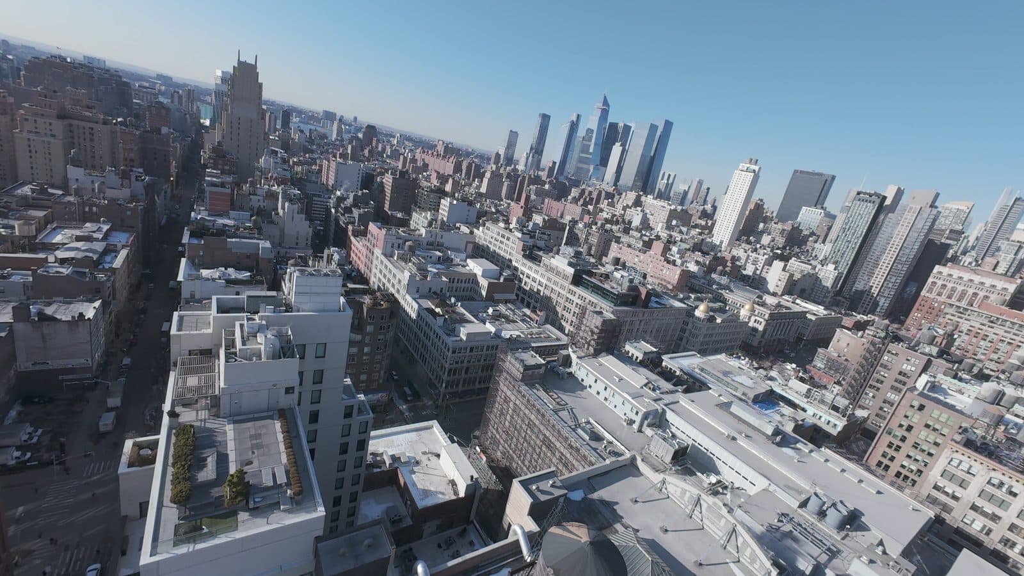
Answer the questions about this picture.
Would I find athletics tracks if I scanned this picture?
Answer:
No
